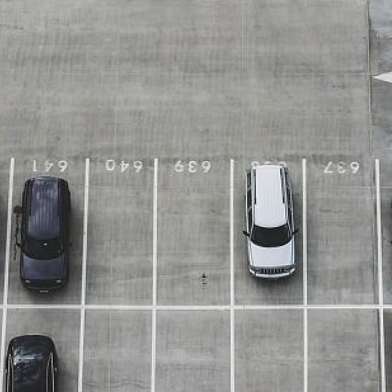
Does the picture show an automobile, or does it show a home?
automobile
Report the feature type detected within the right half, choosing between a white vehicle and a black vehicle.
white vehicle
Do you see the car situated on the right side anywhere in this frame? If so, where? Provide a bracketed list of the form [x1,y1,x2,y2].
[243,164,299,278]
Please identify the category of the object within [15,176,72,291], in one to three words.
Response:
vehicle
